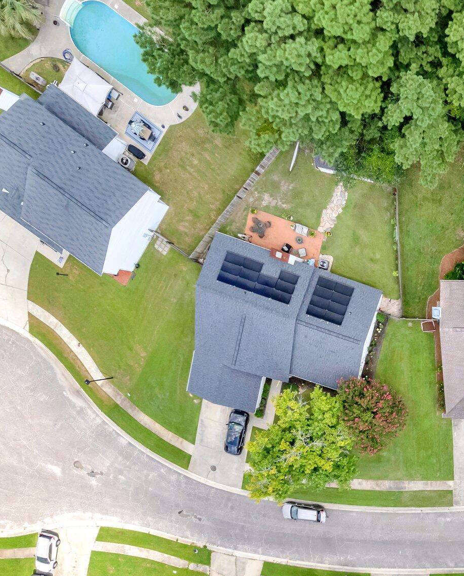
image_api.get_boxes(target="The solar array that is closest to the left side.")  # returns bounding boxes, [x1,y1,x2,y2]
[213,251,300,303]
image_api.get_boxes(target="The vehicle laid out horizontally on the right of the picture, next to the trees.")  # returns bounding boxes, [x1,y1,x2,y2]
[281,501,328,523]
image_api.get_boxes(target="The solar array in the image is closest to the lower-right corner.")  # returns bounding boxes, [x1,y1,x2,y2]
[306,277,354,325]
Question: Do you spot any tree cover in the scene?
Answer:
Yes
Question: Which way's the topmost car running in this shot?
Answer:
up and down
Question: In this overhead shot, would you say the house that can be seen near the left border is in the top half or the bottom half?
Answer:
top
